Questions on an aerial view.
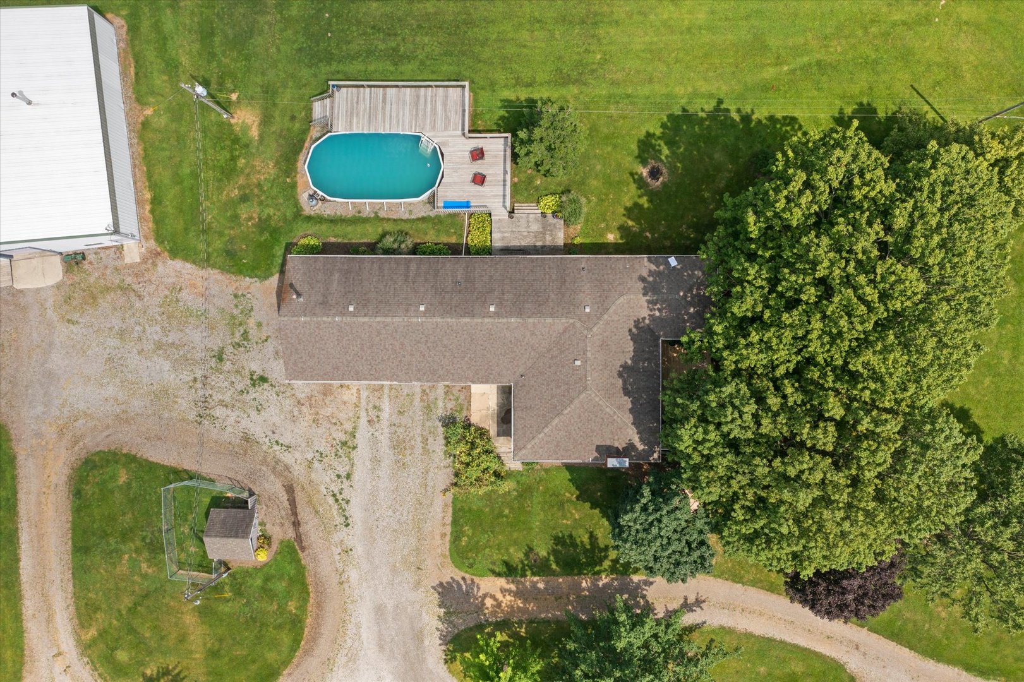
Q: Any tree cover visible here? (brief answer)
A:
Yes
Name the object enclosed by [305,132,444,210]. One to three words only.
swimming pool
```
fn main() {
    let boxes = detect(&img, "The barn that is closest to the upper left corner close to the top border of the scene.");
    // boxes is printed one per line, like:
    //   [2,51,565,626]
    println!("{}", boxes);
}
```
[0,0,141,259]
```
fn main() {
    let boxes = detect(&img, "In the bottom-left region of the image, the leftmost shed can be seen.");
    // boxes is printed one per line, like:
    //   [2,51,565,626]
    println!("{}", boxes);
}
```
[203,503,261,560]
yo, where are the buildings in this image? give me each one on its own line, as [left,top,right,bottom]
[280,254,719,469]
[203,503,261,560]
[0,0,141,259]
